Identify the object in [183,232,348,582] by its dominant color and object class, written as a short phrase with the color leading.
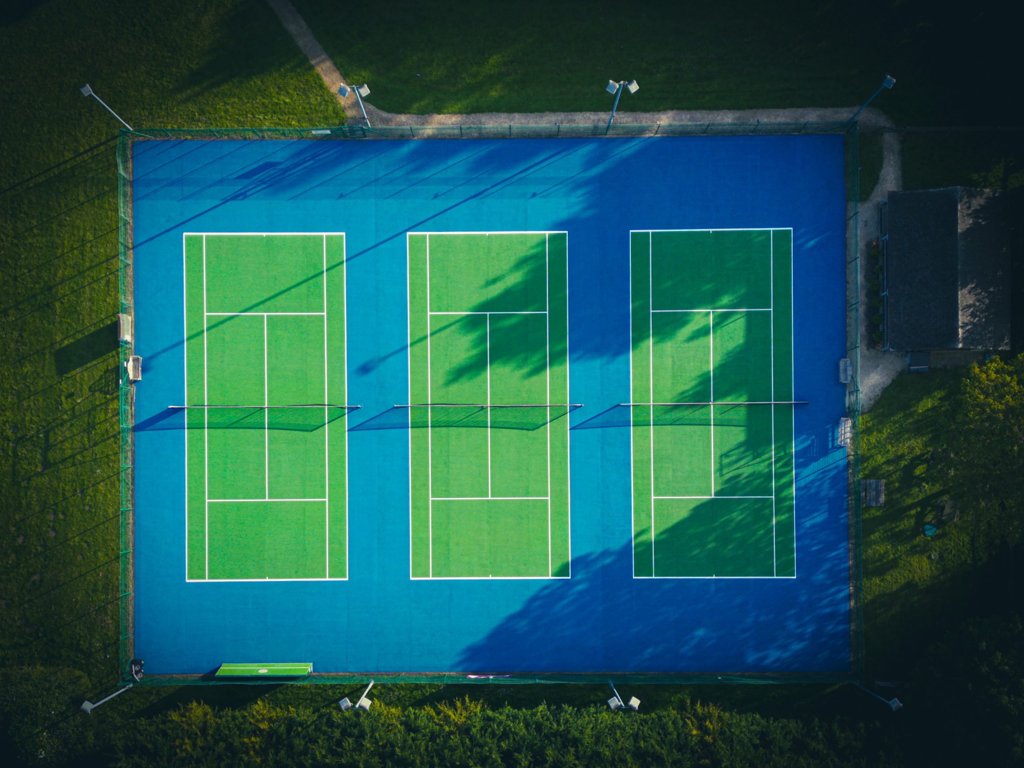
green tennis court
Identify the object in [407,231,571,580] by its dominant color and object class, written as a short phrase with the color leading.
green tennis court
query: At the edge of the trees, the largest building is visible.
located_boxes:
[879,186,1012,355]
